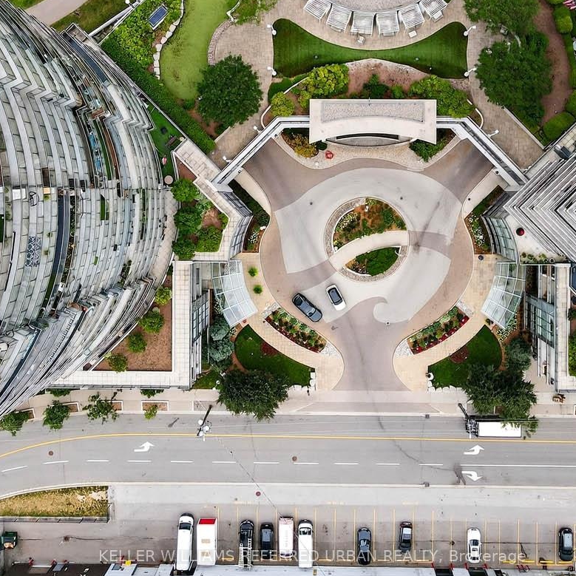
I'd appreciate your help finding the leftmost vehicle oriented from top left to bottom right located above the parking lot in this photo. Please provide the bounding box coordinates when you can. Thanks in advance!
[290,291,325,323]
